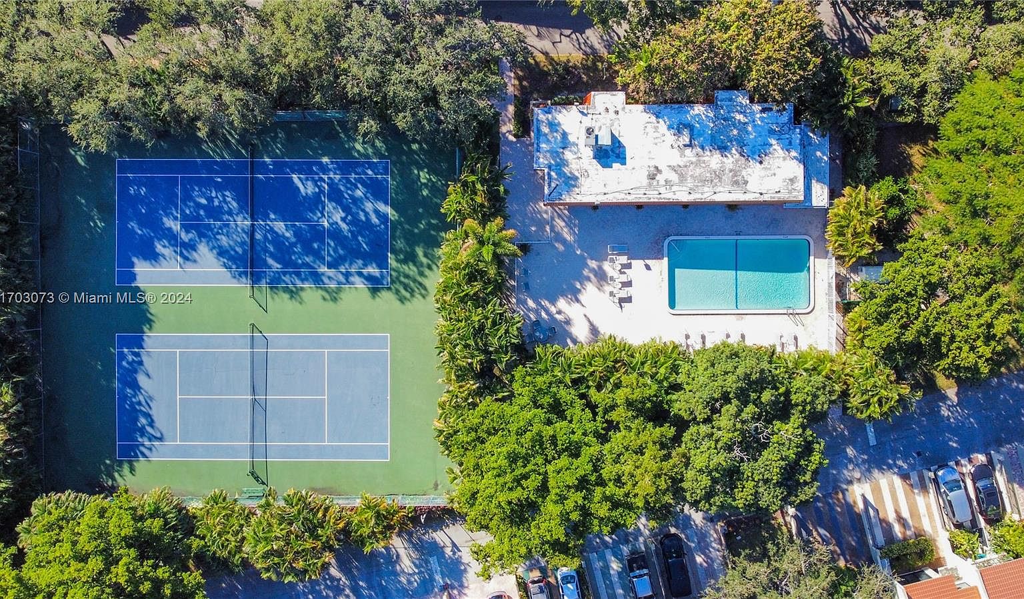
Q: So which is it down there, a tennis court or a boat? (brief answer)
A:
tennis court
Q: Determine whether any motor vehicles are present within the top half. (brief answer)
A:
No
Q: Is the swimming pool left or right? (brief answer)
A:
right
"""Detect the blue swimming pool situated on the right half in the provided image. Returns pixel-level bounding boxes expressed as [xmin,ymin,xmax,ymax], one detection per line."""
[664,235,815,315]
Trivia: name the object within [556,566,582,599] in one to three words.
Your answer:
car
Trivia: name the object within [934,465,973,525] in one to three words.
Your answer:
car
